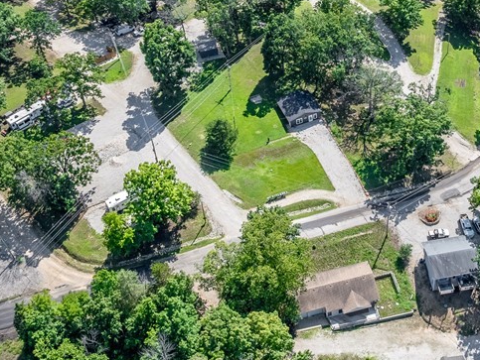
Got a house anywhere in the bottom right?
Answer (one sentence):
Yes, a house appears in the bottom right.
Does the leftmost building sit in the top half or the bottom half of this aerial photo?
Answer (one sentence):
Seen from above, the leftmost building lies in the top half of the view.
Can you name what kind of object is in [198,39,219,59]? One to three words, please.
building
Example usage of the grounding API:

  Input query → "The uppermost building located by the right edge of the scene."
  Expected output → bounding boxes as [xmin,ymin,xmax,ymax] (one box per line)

[423,235,478,298]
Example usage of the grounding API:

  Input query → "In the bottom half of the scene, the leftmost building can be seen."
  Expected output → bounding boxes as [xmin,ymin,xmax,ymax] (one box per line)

[297,263,383,331]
